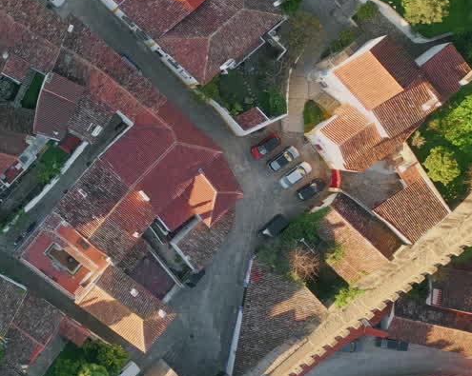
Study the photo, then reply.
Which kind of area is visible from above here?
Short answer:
residential area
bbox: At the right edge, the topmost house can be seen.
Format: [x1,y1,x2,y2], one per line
[310,35,472,173]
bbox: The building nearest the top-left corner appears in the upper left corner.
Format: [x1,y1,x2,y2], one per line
[0,0,77,82]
